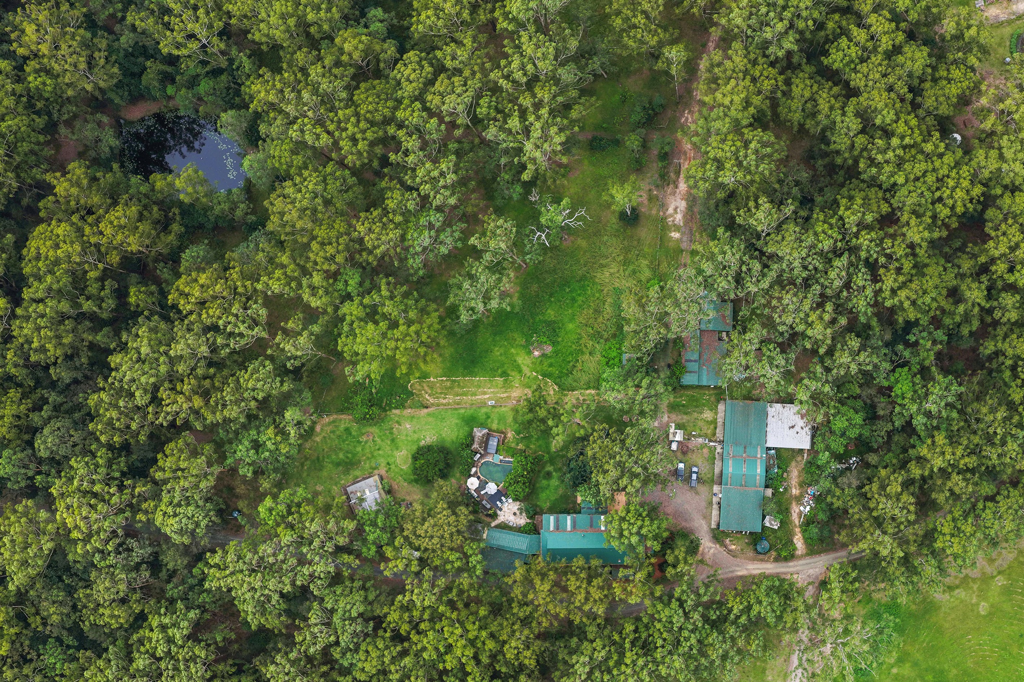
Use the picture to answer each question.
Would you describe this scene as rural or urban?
rural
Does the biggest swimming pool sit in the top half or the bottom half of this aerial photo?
bottom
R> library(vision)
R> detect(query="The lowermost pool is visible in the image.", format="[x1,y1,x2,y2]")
[477,459,517,486]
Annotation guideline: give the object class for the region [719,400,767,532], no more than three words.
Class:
shed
